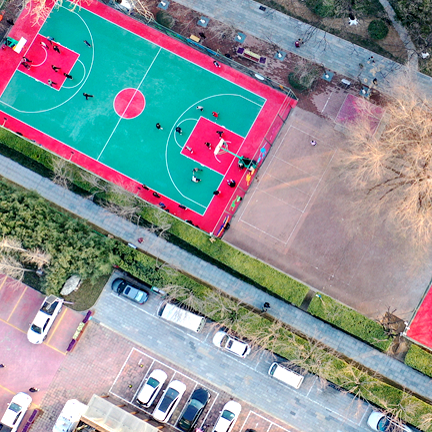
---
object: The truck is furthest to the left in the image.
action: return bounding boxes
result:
[0,392,33,432]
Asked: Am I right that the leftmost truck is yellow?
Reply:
No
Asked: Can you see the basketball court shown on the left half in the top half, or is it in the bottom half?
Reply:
top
